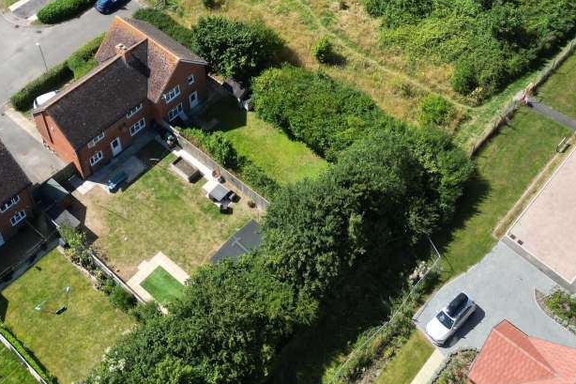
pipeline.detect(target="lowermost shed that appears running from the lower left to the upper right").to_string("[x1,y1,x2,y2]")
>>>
[211,220,264,271]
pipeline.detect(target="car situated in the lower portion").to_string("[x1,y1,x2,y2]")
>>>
[423,288,480,347]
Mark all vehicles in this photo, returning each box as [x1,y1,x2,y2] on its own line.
[423,288,480,347]
[26,88,65,123]
[91,0,131,13]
